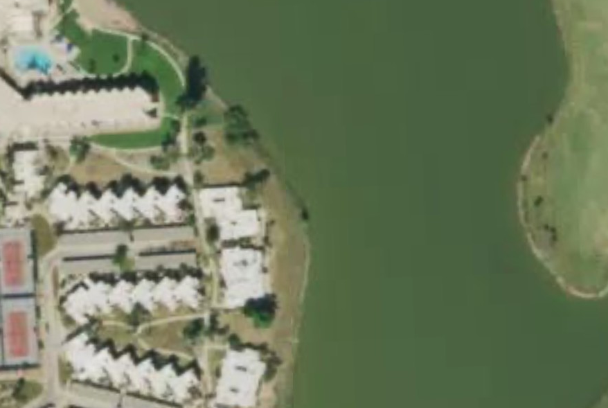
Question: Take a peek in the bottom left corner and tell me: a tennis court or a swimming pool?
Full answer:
You can see a tennis court in the bottom left corner.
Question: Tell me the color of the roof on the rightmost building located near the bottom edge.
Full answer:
The roof over the rightmost building located near the bottom edge appears white.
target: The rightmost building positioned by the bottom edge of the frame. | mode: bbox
[216,347,265,404]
